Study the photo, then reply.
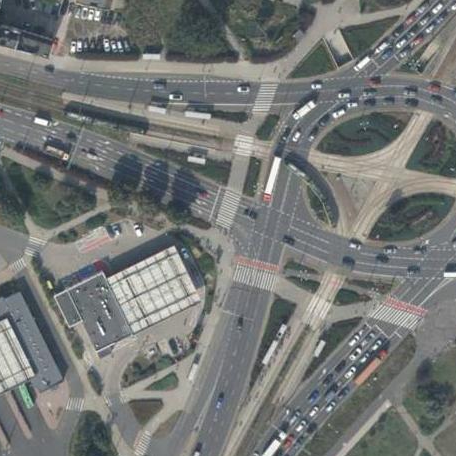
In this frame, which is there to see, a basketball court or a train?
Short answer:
train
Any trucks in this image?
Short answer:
Yes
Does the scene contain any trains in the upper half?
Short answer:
Yes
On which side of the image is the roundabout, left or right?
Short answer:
right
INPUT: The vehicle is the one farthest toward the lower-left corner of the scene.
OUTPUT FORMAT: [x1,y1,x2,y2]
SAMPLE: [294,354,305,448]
[17,382,35,408]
